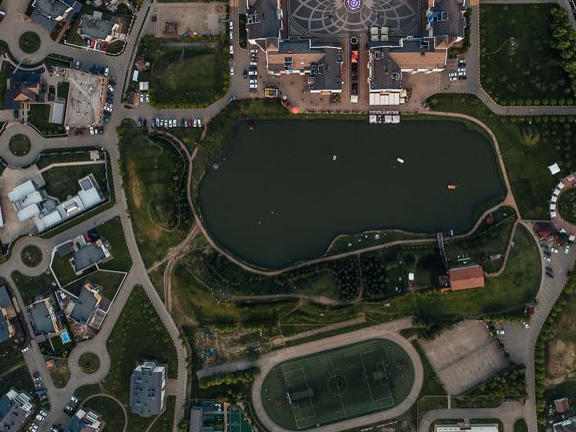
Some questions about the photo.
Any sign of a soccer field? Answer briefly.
Yes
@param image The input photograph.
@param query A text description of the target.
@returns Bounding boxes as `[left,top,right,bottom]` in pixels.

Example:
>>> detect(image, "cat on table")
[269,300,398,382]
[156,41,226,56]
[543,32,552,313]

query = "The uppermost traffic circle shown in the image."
[10,21,51,62]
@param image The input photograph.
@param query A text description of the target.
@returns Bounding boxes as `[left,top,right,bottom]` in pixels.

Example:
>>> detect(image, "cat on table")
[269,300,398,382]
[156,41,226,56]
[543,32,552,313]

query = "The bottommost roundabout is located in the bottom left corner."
[69,342,109,383]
